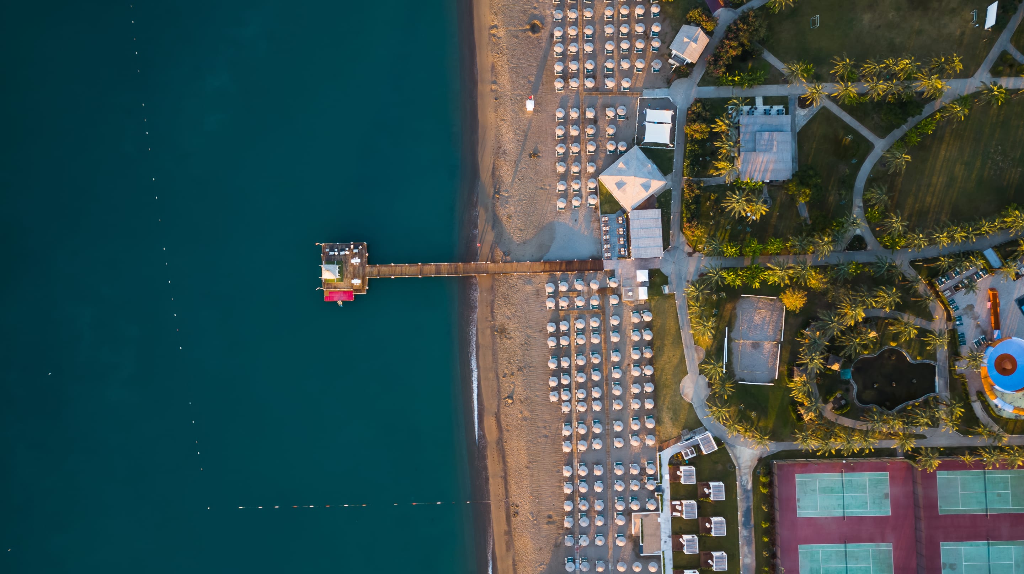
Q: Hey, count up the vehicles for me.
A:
none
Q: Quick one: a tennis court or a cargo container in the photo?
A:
tennis court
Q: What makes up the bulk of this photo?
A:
water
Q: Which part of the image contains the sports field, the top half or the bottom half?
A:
top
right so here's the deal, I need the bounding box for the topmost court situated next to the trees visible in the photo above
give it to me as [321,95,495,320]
[731,297,785,383]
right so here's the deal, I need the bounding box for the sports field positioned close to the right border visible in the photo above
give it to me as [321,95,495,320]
[751,0,1005,83]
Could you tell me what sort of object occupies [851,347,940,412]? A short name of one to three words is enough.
pond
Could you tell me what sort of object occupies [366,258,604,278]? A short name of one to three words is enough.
pier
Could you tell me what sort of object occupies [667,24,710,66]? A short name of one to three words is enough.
shed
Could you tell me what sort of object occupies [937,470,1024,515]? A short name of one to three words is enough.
tennis court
